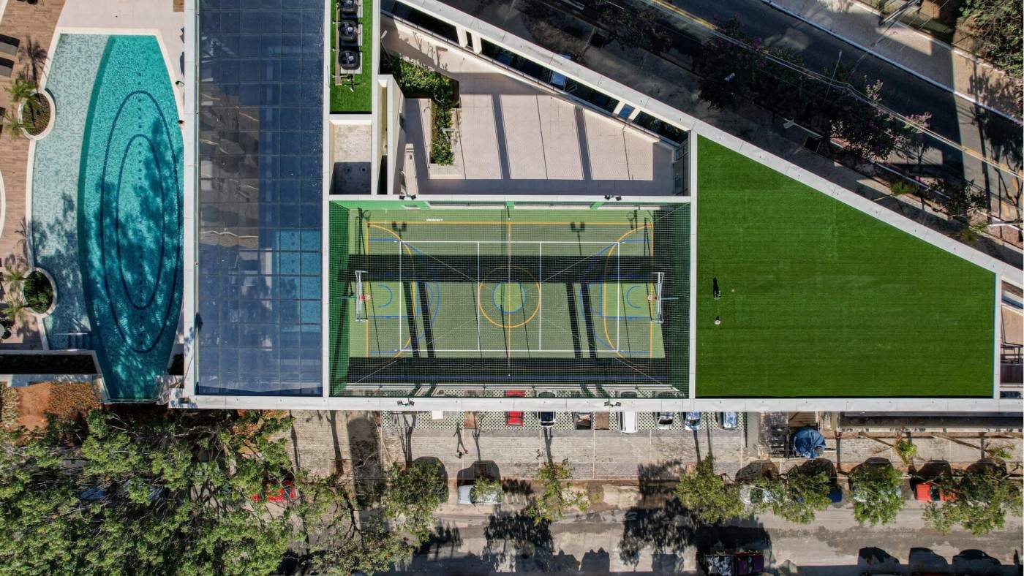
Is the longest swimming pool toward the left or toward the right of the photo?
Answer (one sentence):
The longest swimming pool sits on the left side.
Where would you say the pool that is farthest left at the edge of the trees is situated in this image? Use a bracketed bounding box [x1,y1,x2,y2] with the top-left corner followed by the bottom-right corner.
[23,30,183,402]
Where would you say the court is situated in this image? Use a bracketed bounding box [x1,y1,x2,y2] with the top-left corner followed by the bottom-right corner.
[352,212,666,384]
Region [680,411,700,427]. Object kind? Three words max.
car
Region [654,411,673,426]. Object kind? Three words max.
car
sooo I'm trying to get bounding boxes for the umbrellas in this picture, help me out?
[789,426,823,458]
